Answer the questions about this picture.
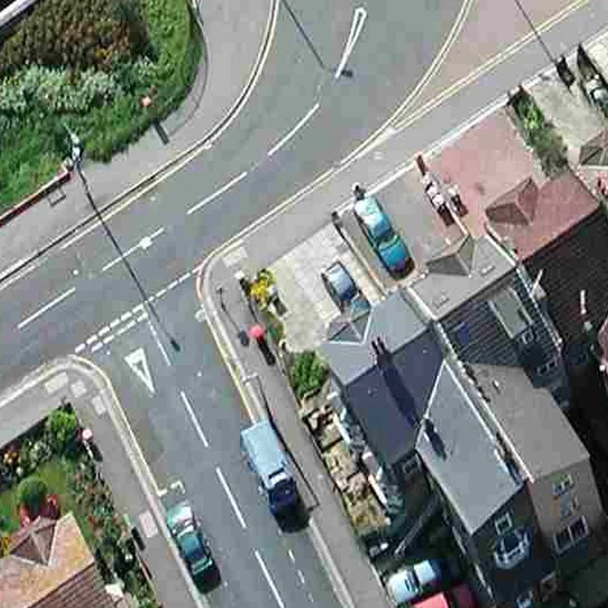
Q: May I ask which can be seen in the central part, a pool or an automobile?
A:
automobile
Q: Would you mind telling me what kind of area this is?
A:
residential area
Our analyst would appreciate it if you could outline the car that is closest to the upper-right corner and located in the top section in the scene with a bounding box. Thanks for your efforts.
[357,200,410,274]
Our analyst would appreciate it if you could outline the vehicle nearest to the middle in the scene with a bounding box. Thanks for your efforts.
[327,265,375,314]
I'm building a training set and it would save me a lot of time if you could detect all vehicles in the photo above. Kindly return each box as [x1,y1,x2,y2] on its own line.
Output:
[357,200,410,274]
[164,508,216,582]
[392,555,467,607]
[327,265,375,314]
[235,418,296,514]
